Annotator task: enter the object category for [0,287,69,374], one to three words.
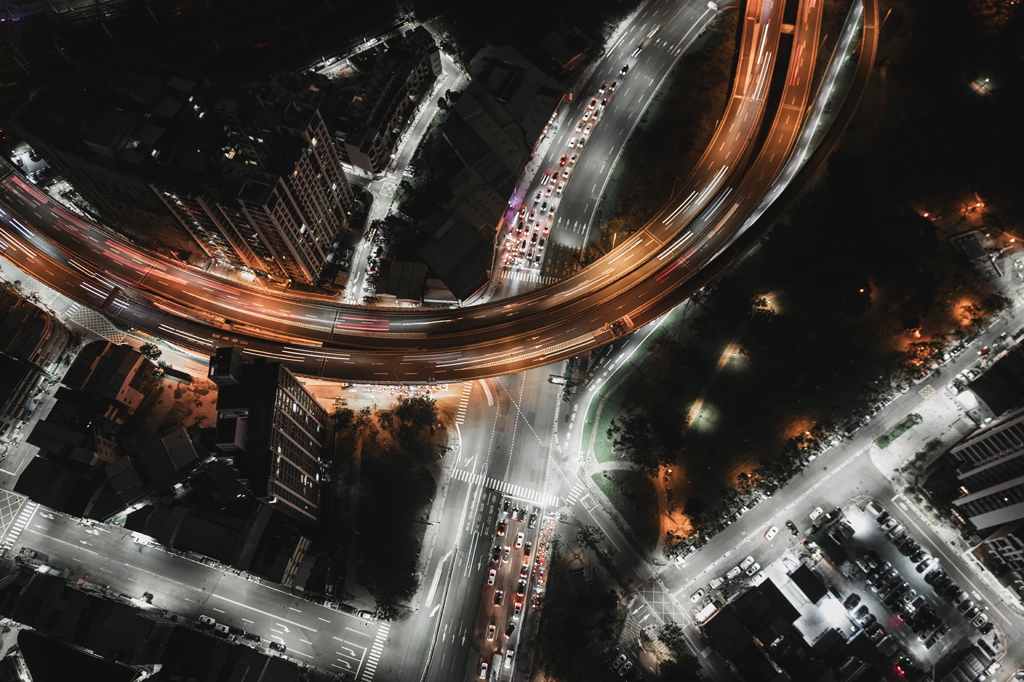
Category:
building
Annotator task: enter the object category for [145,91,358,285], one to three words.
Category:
building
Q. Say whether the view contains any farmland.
No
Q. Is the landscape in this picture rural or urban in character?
urban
